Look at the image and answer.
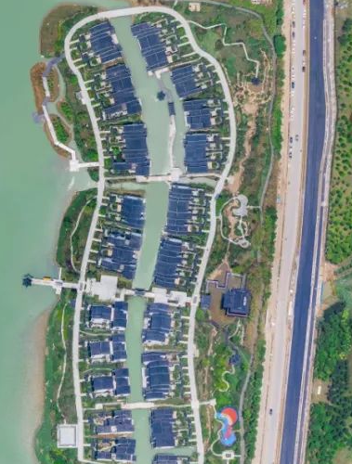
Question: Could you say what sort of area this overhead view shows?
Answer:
residential area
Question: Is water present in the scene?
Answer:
Yes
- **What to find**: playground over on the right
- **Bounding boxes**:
[217,408,238,446]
